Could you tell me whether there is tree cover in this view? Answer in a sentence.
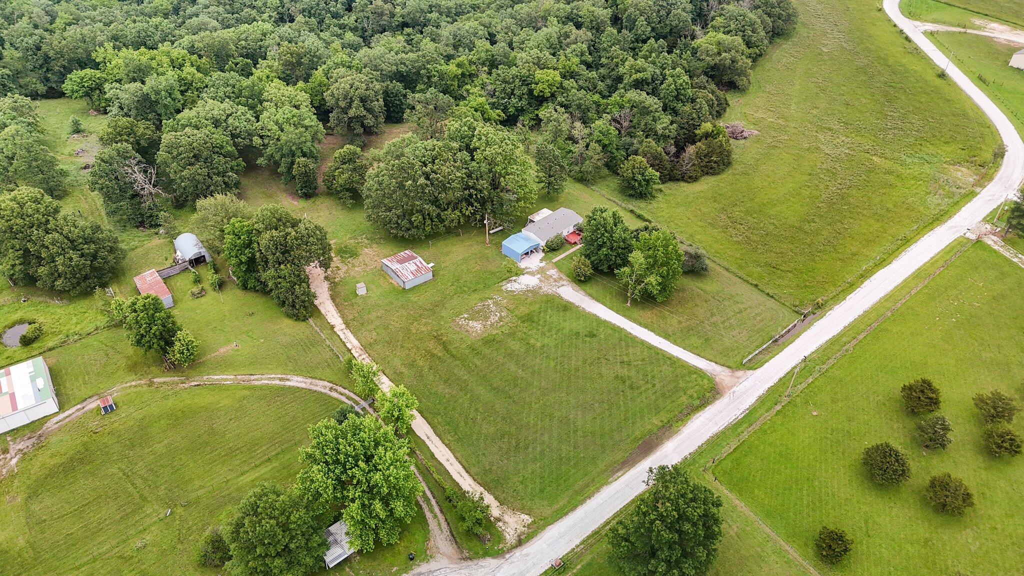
Yes, there's tree cover in this view.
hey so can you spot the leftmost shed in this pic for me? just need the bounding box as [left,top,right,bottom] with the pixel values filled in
[0,352,59,433]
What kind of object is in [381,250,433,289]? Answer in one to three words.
shed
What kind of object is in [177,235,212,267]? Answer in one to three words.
barn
